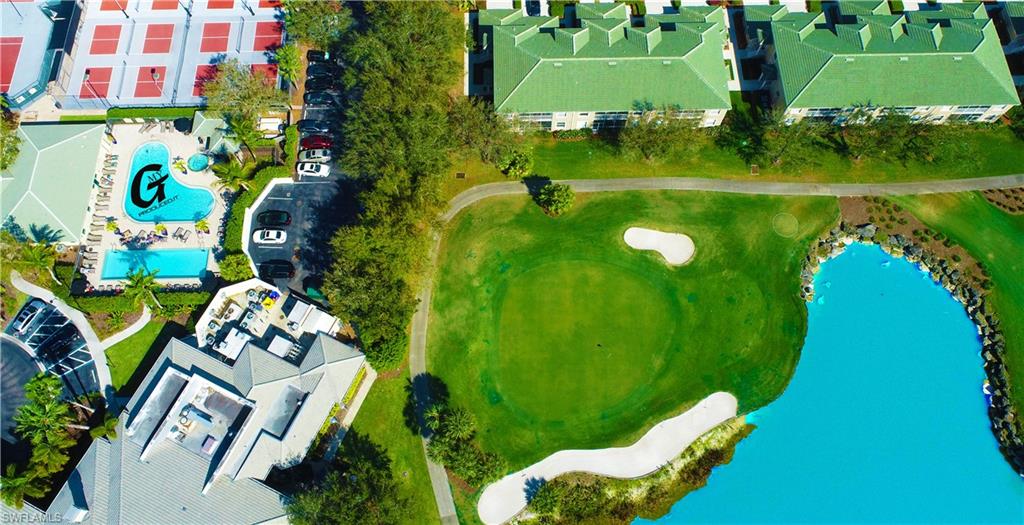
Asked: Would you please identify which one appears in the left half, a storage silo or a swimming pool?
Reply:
swimming pool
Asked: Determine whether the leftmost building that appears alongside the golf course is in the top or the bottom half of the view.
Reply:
bottom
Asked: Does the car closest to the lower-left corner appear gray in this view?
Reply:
No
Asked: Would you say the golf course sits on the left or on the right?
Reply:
right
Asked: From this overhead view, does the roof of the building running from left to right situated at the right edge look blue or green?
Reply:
green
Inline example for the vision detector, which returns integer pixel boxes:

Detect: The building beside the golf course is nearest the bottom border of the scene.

[0,331,364,525]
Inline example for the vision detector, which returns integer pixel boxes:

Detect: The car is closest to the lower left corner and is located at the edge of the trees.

[36,331,73,360]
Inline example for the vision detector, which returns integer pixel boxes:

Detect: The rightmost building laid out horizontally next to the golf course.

[743,0,1022,129]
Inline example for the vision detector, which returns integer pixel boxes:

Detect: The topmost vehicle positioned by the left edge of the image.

[11,298,44,329]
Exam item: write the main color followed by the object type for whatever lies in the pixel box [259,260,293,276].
black car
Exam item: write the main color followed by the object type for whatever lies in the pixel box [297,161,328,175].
white car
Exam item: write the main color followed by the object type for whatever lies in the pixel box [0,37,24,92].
red tennis court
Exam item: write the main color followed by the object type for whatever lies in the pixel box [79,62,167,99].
red sports court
